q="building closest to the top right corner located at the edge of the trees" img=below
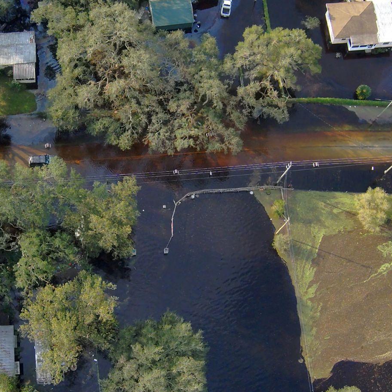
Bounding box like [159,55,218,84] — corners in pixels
[323,0,392,54]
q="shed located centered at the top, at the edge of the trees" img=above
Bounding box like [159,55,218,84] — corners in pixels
[149,0,194,39]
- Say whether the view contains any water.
Yes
